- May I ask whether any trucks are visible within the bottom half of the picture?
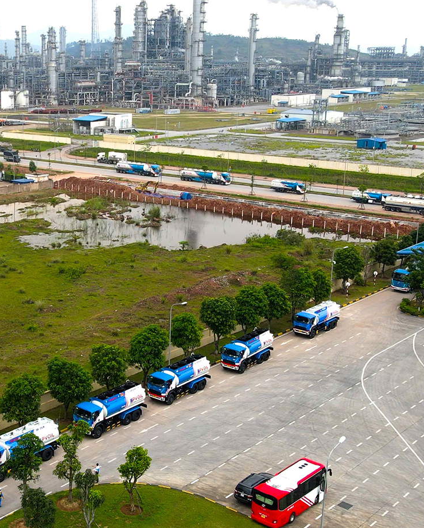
Yes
